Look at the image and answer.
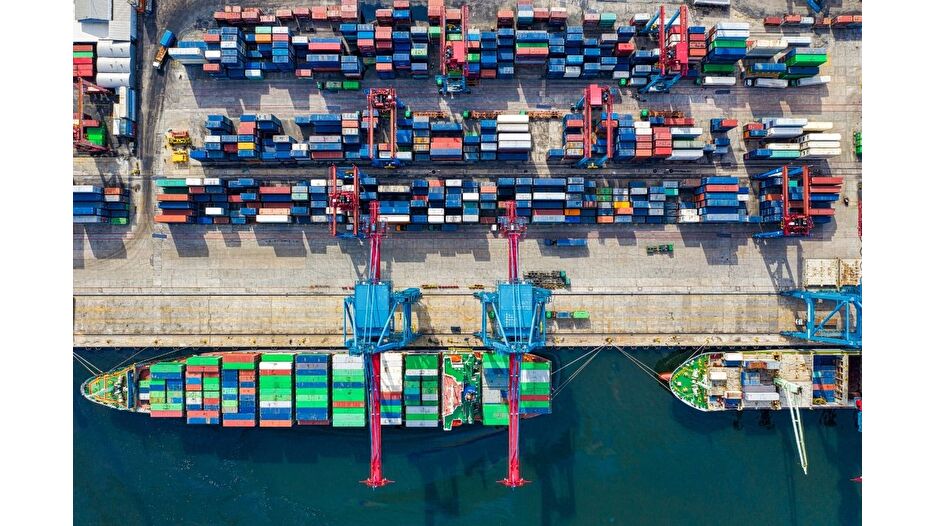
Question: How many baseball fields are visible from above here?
0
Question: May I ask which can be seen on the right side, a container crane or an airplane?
container crane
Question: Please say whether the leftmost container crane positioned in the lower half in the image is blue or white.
blue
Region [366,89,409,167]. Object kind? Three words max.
container crane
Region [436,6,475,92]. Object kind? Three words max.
container crane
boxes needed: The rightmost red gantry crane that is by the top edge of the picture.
[636,5,688,92]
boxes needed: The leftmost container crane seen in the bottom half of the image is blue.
[336,203,423,491]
